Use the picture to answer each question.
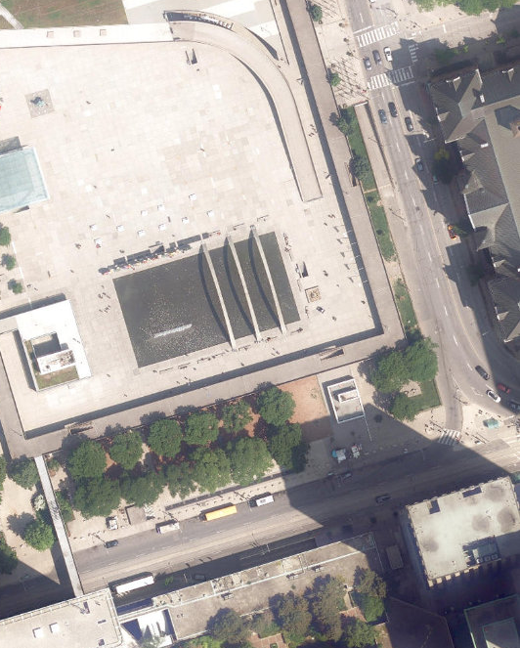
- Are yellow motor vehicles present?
Yes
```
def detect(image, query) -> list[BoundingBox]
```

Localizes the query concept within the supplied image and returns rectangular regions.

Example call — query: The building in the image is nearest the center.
[325,377,373,440]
